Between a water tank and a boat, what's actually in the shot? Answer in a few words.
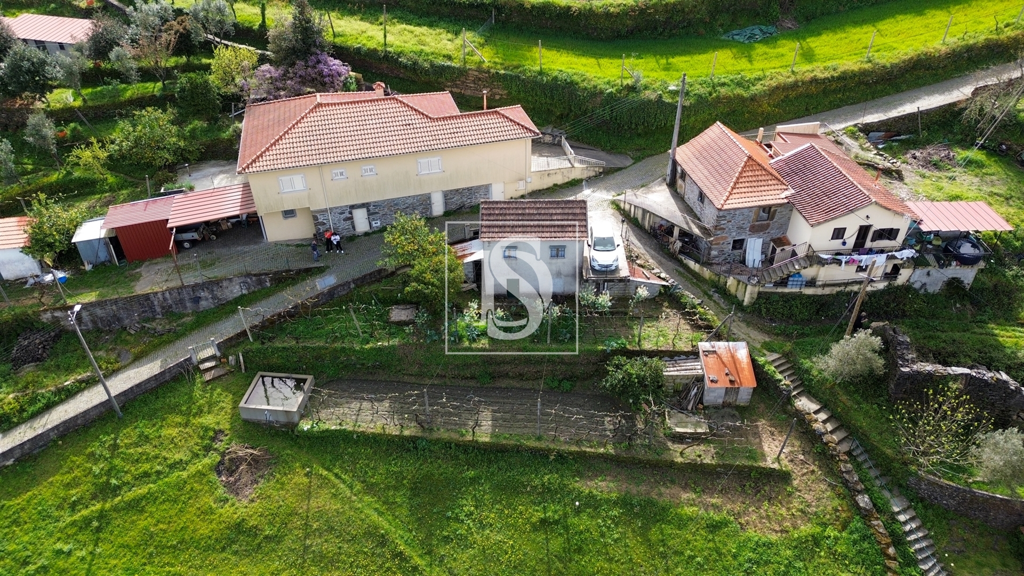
water tank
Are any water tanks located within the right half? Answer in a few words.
No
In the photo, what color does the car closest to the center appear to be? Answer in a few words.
white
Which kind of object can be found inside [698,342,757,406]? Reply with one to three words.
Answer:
shed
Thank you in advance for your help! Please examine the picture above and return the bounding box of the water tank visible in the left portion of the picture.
[238,372,315,422]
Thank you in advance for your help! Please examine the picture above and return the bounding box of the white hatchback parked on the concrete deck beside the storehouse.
[587,223,622,271]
